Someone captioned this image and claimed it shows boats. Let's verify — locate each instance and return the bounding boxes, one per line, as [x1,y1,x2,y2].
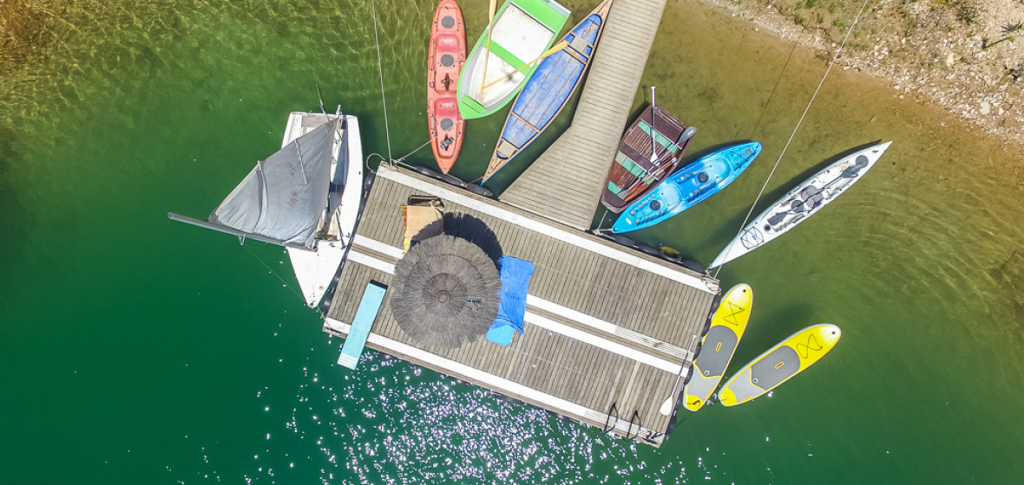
[708,140,894,267]
[429,0,466,174]
[481,0,612,185]
[611,141,763,233]
[167,84,361,308]
[603,102,689,213]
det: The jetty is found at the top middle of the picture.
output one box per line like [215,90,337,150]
[500,0,668,228]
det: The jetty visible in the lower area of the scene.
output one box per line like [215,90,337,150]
[323,163,718,450]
